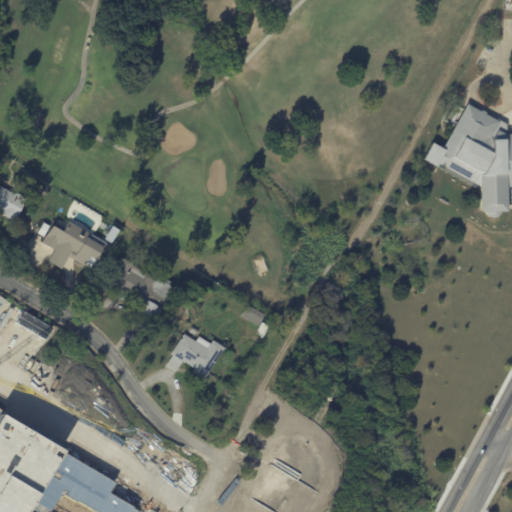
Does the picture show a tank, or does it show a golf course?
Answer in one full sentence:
I can see a golf course in this picture.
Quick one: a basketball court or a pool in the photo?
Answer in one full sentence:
Of the two, only a pool appears.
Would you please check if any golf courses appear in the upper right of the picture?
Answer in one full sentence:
No, no golf course can be made out in the upper right of the picture.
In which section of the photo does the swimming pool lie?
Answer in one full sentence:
The swimming pool is located in the left region of the scene.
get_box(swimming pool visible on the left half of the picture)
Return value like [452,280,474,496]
[67,201,102,231]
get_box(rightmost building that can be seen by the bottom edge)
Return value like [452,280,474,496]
[40,454,150,512]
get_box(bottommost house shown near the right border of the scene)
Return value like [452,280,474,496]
[426,102,512,218]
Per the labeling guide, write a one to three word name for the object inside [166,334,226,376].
house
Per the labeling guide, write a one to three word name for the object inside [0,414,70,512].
building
